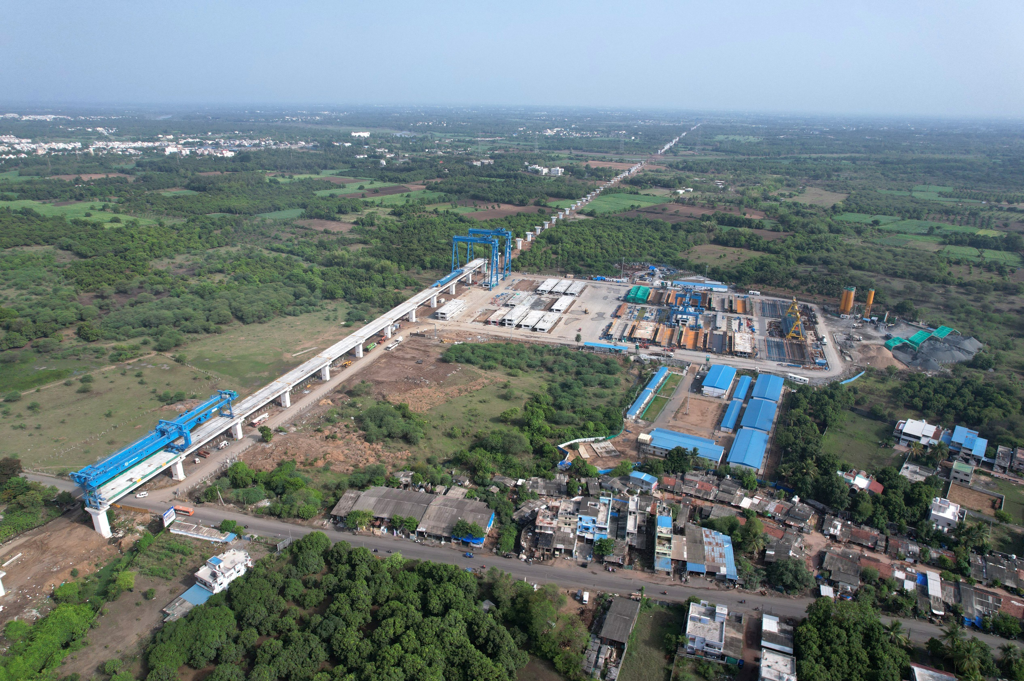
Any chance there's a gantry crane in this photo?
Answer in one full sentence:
Yes, a gantry crane can be made out from above.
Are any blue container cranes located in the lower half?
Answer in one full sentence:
Yes, looking in the lower half, one can make out a blue container crane.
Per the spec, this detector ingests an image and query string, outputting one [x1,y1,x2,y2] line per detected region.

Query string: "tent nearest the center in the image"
[626,286,654,306]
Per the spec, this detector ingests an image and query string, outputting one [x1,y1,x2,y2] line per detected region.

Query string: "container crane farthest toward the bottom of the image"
[66,388,245,512]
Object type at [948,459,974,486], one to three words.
house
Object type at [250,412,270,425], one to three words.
vehicle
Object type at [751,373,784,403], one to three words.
shed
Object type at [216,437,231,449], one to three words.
vehicle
